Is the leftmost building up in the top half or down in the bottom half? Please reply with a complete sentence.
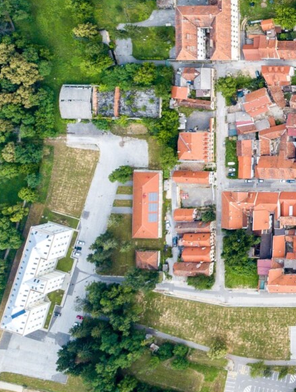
You can find the leftmost building in the bottom half.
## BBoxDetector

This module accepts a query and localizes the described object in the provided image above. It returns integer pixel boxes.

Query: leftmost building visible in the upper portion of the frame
[59,84,96,119]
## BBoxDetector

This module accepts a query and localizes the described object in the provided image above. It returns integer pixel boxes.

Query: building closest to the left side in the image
[0,222,70,336]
